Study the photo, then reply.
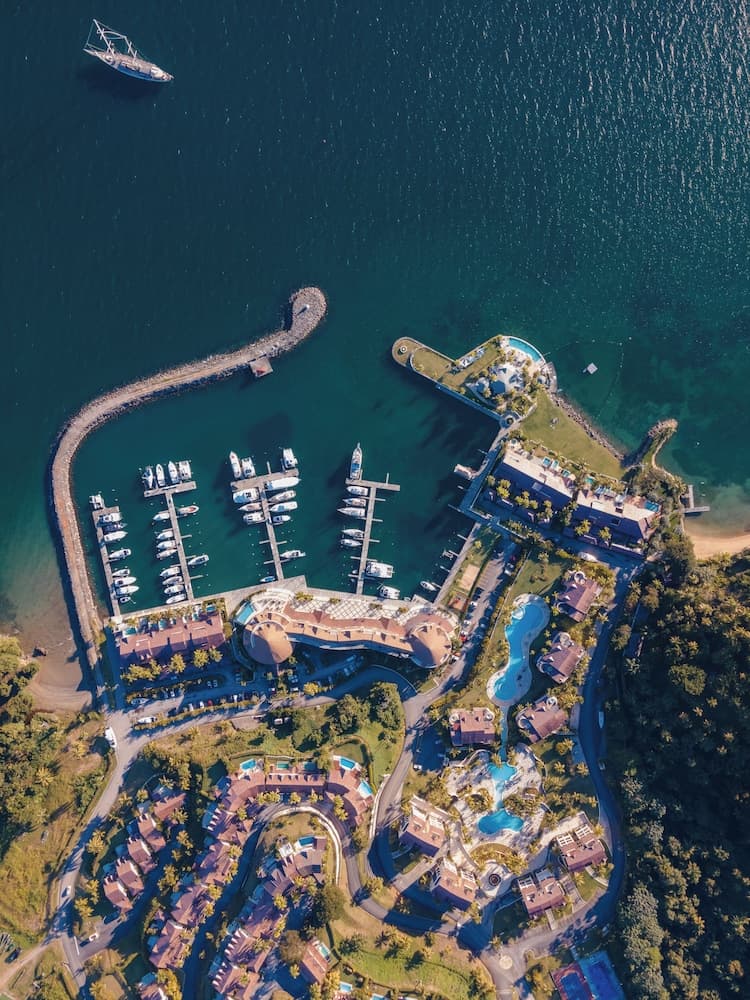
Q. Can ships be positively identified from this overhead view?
Yes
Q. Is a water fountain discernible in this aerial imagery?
Yes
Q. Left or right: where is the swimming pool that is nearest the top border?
right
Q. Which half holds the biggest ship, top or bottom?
top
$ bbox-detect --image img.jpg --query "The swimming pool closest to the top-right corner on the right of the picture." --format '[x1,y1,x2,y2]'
[507,338,545,368]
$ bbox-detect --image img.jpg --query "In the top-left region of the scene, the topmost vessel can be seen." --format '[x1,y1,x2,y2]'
[81,22,167,84]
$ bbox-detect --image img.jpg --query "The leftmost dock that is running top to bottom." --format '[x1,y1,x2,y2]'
[92,505,120,614]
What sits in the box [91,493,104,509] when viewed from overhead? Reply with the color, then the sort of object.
white boat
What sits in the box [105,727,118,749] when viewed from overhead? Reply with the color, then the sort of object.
white vehicle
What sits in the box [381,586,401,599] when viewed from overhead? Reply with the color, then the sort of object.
white boat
